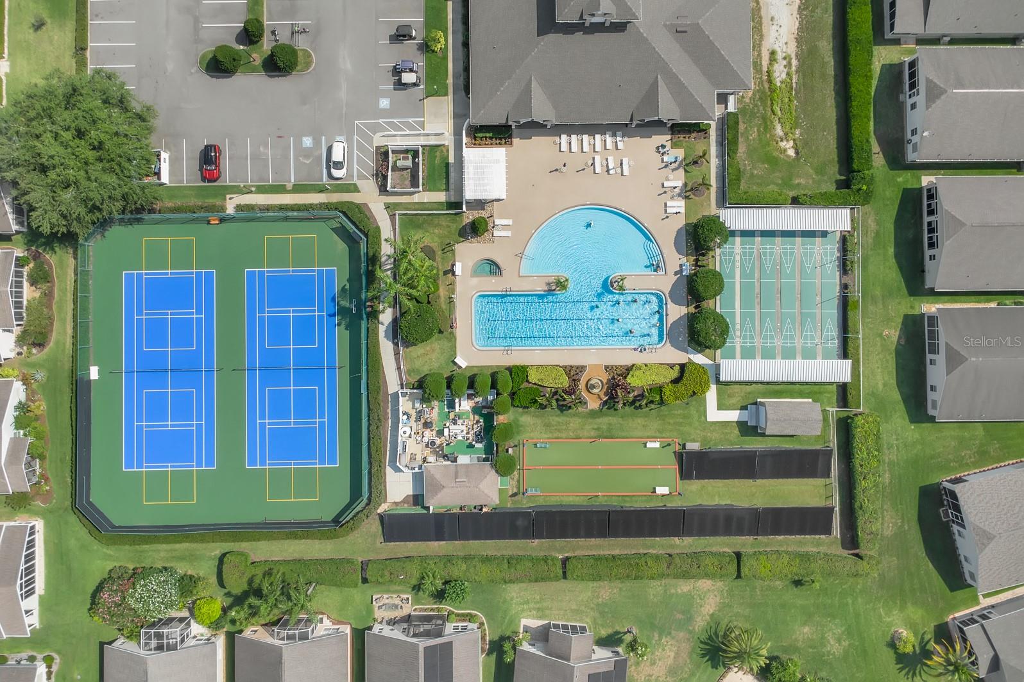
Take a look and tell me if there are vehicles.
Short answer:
Yes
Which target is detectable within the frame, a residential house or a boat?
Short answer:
residential house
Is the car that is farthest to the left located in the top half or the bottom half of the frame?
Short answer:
top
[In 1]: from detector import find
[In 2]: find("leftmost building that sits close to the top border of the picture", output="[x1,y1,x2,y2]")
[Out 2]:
[469,0,753,127]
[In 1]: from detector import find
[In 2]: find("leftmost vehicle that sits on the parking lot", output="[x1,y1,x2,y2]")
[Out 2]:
[202,144,223,182]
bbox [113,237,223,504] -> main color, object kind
blue tennis court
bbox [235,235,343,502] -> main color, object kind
blue tennis court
